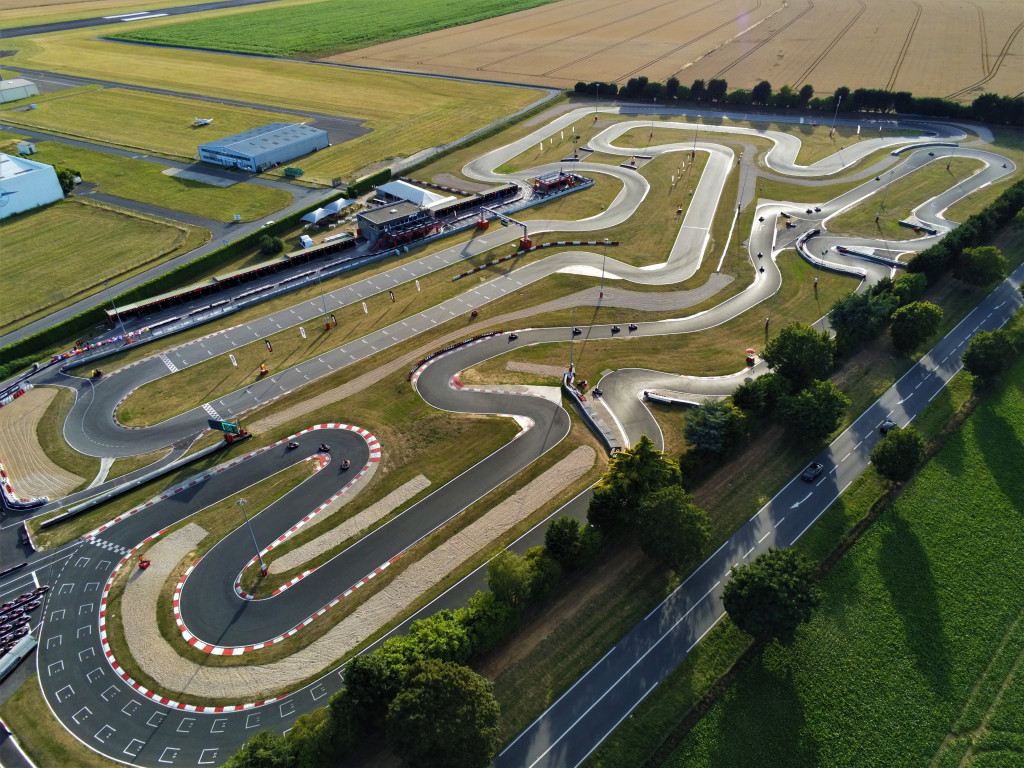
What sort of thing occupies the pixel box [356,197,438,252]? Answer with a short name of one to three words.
building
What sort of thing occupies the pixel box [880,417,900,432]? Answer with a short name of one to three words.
car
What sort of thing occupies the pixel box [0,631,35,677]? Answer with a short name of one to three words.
trailer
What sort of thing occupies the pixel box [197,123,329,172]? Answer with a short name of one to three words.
hangar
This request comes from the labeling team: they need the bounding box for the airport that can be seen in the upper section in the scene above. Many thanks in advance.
[0,0,548,337]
